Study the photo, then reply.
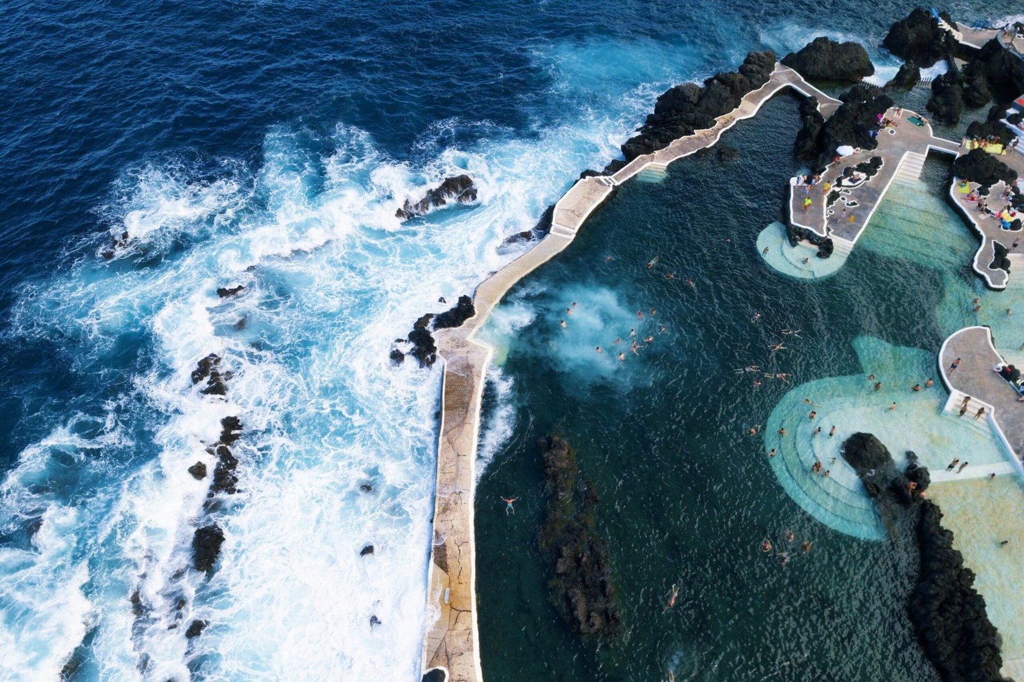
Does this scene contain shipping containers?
No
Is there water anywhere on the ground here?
Yes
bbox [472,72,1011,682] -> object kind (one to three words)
swimming pool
